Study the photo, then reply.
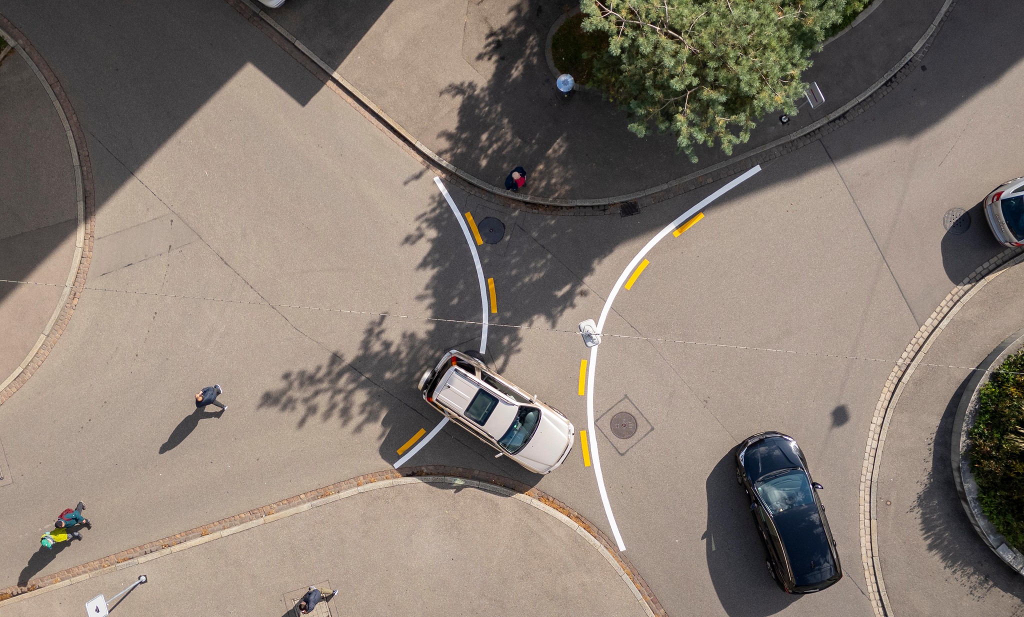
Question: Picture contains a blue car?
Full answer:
No, no blue car can be seen from above.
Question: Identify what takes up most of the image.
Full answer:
Most of the picture is covered by paved ground.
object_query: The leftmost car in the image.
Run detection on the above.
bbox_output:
[419,350,576,474]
